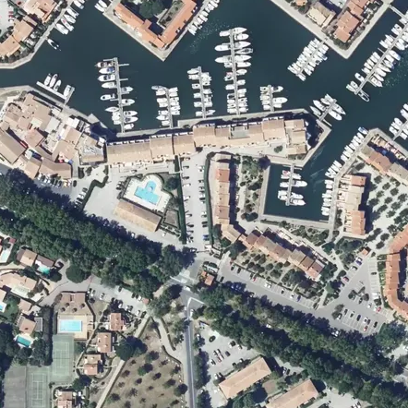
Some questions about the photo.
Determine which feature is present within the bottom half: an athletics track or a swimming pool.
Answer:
swimming pool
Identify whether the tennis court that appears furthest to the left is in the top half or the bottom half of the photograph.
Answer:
bottom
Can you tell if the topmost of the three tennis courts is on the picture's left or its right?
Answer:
left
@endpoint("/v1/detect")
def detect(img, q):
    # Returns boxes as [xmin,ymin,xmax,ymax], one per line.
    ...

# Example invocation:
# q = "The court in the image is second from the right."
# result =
[26,366,51,408]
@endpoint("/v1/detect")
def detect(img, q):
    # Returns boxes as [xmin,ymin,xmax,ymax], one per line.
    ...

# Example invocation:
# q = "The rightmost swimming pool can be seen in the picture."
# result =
[123,174,169,211]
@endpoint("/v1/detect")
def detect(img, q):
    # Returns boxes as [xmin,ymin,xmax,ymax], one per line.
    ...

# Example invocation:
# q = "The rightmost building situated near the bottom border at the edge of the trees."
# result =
[288,380,318,408]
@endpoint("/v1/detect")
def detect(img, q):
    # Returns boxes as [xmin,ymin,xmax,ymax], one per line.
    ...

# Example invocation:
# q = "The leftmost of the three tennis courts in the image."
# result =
[2,366,26,408]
